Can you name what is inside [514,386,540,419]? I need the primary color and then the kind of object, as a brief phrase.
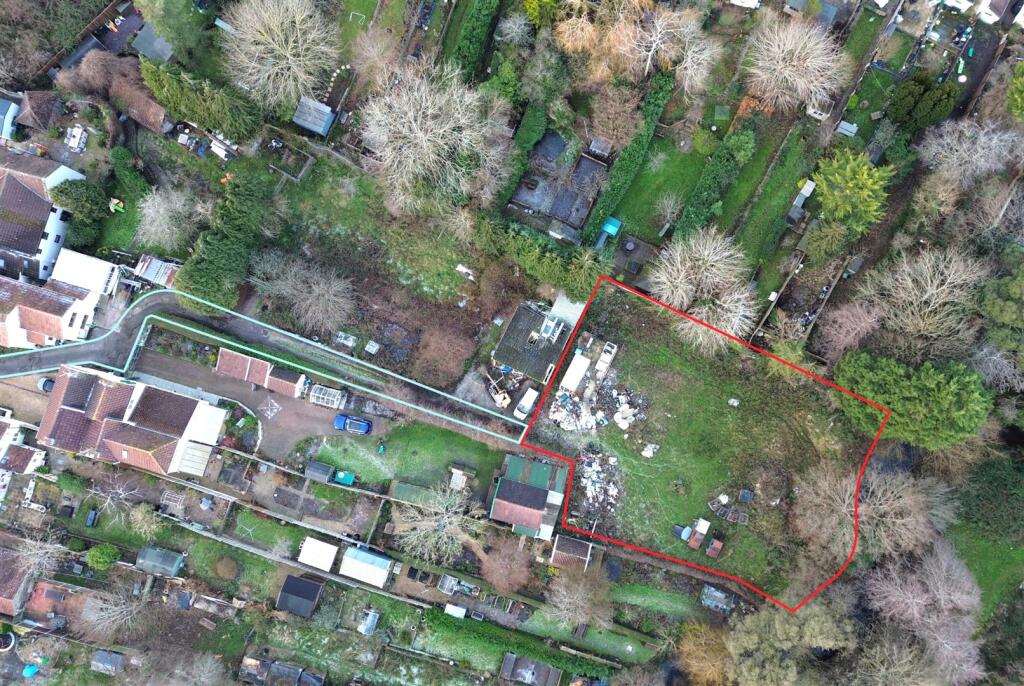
white vehicle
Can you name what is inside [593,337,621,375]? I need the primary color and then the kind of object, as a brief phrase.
white truck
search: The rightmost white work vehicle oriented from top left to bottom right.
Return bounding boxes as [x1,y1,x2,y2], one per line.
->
[484,377,514,416]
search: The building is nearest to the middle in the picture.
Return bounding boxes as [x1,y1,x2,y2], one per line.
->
[493,303,573,385]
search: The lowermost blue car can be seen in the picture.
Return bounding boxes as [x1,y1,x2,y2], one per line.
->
[334,413,372,434]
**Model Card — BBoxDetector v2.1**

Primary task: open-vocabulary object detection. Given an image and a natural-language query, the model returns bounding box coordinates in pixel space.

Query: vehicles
[334,413,372,434]
[514,386,540,419]
[593,337,621,375]
[484,377,514,416]
[556,345,592,395]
